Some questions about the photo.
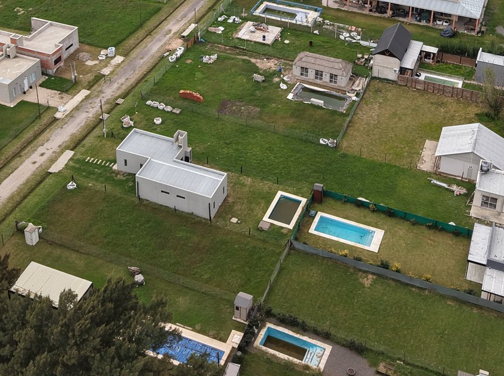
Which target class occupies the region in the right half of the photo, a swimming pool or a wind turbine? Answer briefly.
swimming pool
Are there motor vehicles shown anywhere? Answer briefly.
No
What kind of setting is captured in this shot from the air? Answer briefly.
residential area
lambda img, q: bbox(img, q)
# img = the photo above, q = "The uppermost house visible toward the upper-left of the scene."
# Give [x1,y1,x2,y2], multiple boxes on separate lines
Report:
[0,22,80,74]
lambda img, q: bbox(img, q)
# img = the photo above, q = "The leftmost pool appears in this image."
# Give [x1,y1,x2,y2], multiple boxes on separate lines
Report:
[153,321,230,372]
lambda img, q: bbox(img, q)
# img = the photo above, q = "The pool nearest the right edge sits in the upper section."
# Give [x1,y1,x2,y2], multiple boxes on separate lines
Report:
[424,70,464,85]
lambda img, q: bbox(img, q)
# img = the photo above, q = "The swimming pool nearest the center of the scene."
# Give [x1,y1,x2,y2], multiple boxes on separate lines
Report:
[264,191,308,229]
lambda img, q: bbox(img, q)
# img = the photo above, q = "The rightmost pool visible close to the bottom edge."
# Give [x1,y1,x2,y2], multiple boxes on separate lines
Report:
[256,322,332,367]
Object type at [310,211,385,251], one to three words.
swimming pool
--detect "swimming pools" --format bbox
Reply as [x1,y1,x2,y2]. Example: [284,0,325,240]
[287,83,352,111]
[424,70,464,85]
[153,321,230,372]
[254,0,318,21]
[264,191,308,229]
[256,322,332,367]
[310,211,385,251]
